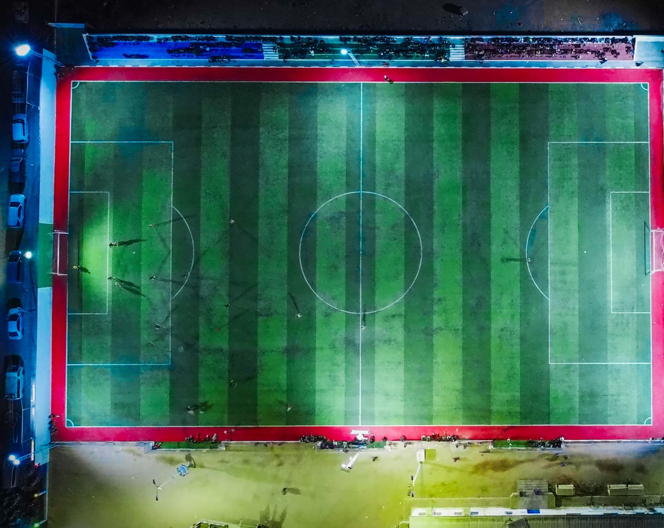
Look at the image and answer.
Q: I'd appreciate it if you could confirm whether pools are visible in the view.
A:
No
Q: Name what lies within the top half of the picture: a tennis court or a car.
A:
car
